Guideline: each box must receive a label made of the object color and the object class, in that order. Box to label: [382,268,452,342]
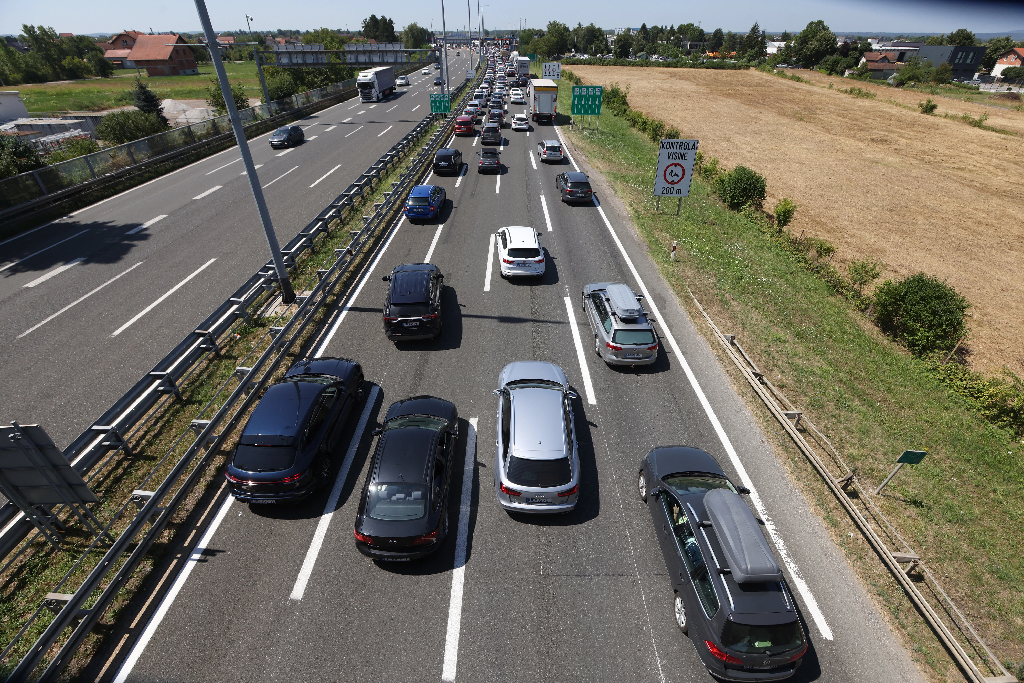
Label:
black car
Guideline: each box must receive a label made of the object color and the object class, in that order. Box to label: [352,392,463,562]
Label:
black car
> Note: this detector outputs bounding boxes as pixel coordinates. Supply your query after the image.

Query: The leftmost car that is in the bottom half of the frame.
[219,360,366,506]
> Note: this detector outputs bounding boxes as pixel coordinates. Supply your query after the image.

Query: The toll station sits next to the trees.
[432,33,521,47]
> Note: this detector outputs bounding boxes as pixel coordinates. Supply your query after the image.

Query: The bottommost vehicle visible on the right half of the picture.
[632,446,817,683]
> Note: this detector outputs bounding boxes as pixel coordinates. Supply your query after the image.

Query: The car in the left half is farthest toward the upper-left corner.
[275,124,311,148]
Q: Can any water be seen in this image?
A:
No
